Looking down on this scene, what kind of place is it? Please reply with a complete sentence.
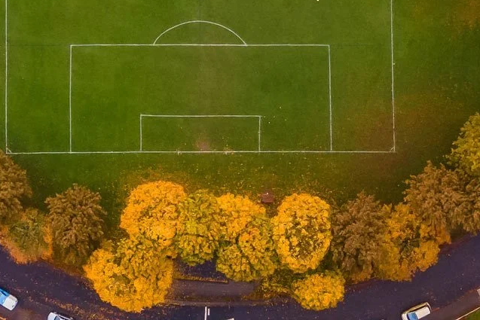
The area seen from above is a sports ground.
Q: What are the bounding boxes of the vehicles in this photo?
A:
[0,286,20,313]
[397,298,433,320]
[45,308,72,320]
